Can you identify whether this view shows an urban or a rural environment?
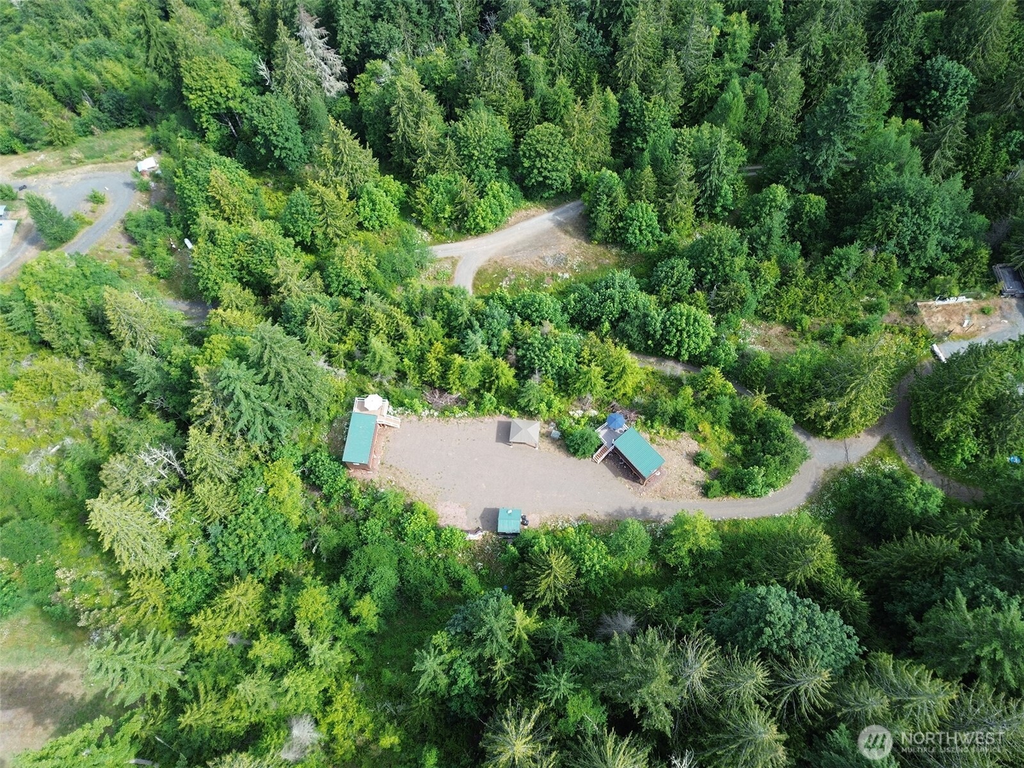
rural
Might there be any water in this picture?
No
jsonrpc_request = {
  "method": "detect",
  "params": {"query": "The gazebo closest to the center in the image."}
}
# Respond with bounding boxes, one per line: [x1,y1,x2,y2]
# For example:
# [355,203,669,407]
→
[509,420,540,450]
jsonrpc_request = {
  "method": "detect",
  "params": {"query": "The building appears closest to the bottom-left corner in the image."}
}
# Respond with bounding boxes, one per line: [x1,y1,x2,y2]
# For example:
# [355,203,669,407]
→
[340,412,382,472]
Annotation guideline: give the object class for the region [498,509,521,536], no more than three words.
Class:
shed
